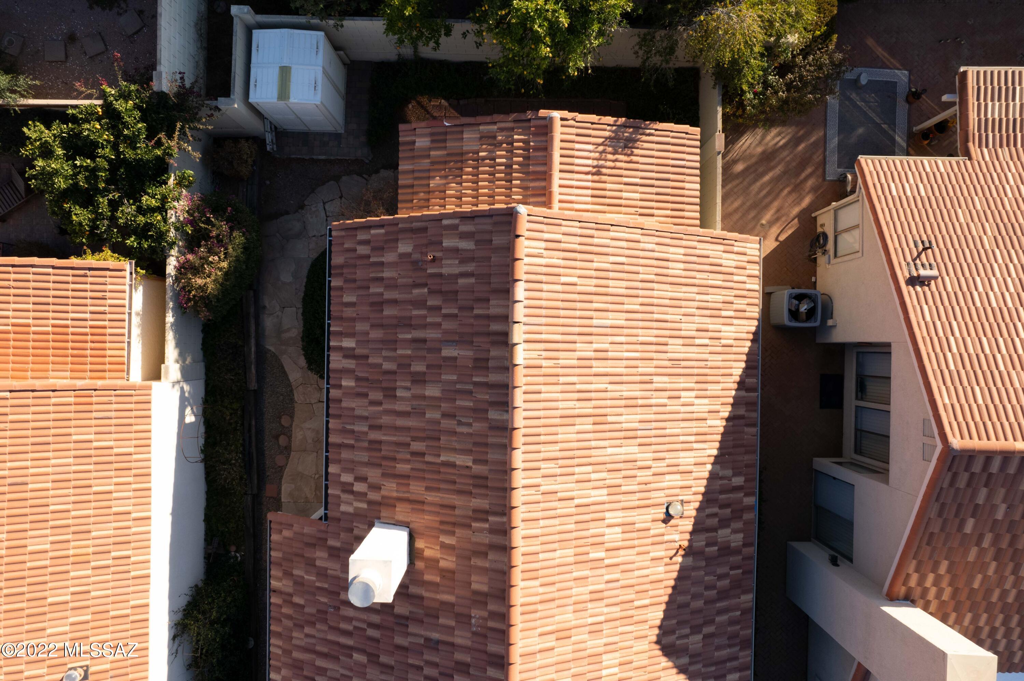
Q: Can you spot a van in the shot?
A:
No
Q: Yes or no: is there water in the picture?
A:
No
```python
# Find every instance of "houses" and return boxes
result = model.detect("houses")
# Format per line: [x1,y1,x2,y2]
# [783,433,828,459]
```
[786,63,1024,681]
[265,108,763,681]
[0,258,203,681]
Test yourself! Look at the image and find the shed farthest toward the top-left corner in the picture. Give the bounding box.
[247,28,344,131]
